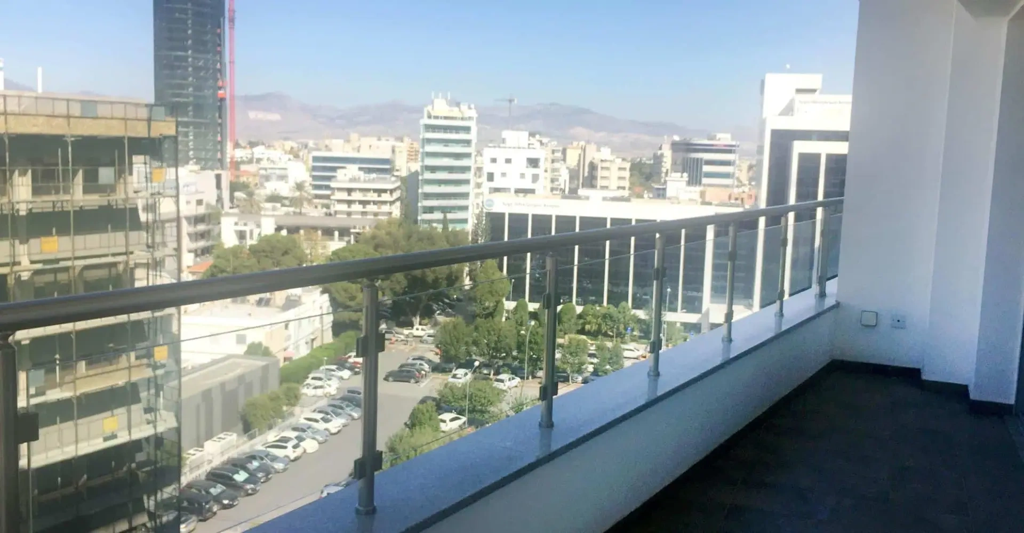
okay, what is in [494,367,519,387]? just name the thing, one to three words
car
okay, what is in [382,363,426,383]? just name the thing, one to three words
car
